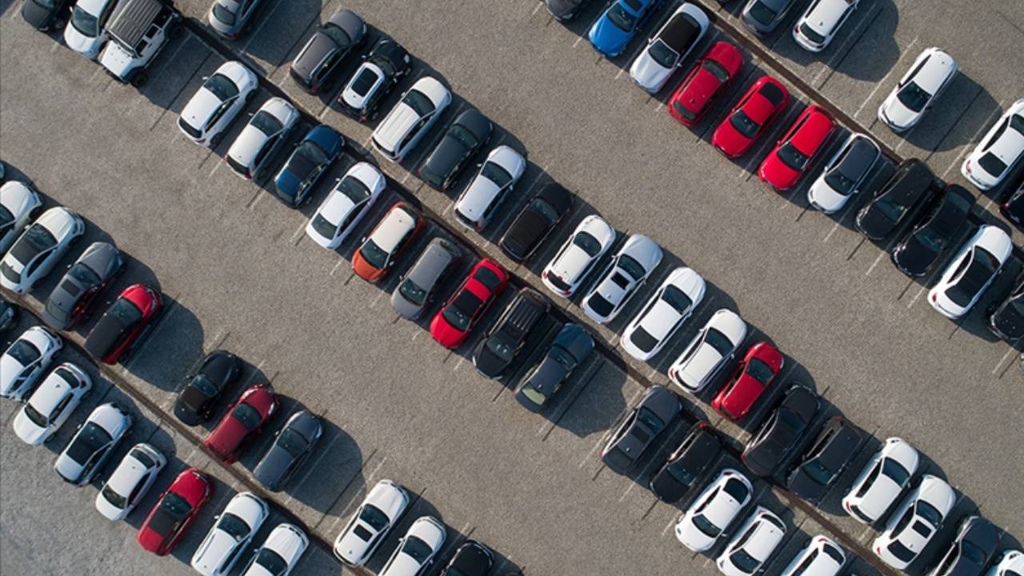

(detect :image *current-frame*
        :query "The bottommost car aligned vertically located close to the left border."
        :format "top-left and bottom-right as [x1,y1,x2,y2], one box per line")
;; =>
[0,301,25,358]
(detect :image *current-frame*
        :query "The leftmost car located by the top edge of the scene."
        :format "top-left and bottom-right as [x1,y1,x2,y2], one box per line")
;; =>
[28,0,80,37]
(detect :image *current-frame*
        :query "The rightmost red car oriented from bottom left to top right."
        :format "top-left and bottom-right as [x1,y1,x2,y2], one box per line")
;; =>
[758,104,839,192]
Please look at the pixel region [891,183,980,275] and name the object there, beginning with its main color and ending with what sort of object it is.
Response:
black car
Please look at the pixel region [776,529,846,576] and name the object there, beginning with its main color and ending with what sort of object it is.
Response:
white car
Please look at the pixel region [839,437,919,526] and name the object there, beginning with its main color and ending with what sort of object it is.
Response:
white car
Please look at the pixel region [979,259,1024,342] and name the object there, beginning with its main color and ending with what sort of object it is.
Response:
black car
